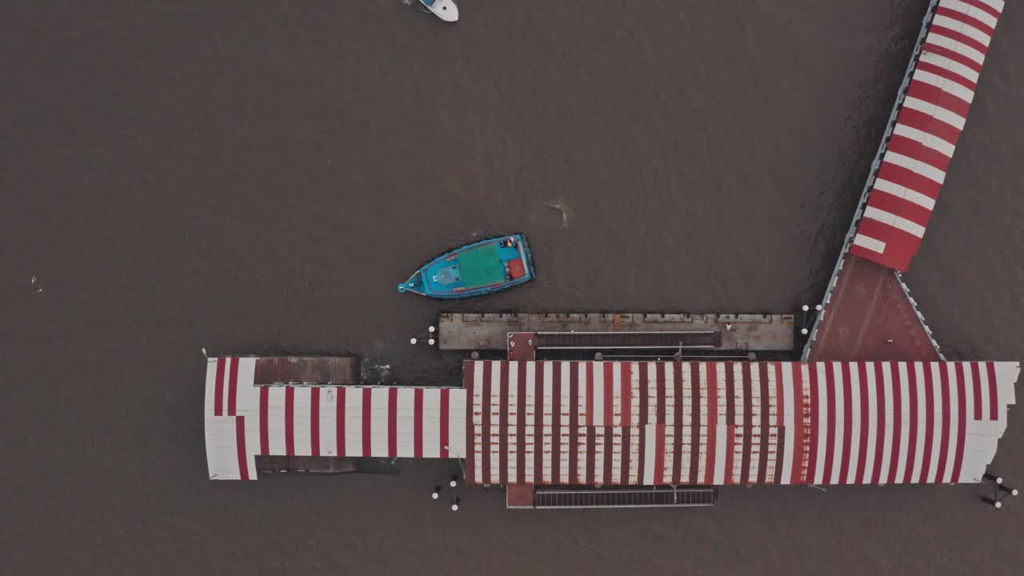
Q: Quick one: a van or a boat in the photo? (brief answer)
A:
boat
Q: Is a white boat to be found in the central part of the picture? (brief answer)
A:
No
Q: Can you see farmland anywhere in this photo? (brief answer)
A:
No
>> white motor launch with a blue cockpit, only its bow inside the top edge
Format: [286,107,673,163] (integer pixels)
[419,0,459,22]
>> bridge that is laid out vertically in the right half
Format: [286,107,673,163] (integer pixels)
[794,0,967,362]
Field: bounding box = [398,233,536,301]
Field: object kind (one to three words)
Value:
boat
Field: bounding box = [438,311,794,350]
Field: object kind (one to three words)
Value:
pier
